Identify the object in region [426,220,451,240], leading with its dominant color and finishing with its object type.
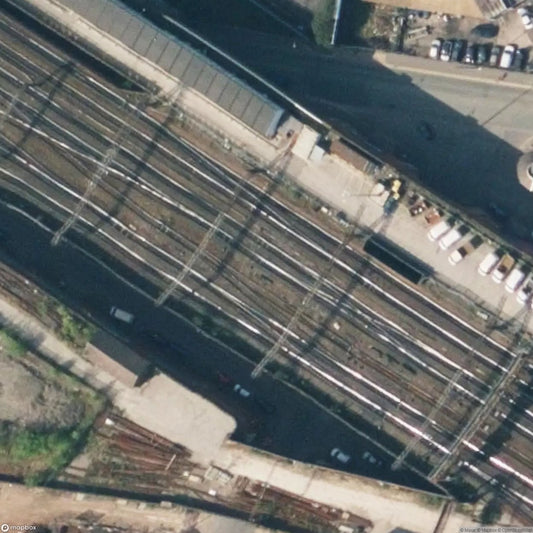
white vehicle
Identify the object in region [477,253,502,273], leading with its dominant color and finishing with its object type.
white vehicle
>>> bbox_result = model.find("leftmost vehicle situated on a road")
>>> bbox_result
[109,308,134,323]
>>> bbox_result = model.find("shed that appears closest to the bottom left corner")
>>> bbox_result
[84,326,152,387]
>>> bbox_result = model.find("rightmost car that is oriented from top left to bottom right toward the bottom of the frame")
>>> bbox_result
[362,452,380,466]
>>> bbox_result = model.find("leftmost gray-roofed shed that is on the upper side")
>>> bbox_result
[61,0,287,140]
